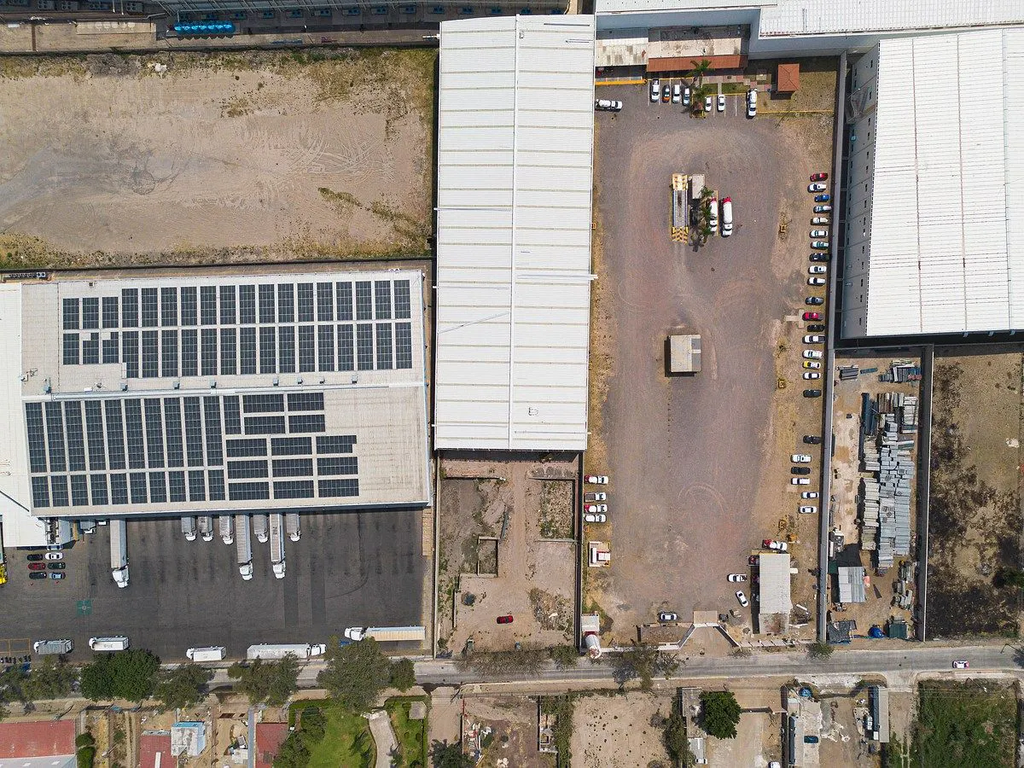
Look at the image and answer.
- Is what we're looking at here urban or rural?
urban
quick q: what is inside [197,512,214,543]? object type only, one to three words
vehicle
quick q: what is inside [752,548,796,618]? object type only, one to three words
shed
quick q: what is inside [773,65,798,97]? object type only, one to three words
gazebo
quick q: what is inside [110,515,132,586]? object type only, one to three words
truck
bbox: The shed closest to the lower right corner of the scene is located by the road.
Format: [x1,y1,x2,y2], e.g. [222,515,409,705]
[869,678,889,742]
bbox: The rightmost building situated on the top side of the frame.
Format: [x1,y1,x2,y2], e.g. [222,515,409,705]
[841,29,1024,339]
